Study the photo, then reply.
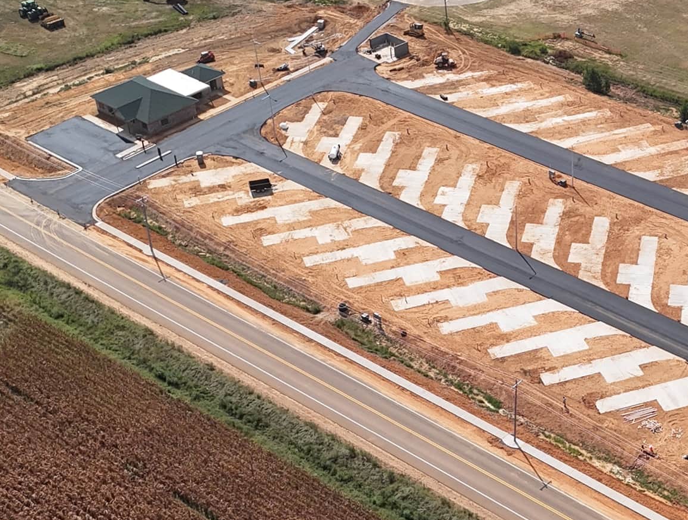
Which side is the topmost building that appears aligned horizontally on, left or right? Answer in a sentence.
It is on the left.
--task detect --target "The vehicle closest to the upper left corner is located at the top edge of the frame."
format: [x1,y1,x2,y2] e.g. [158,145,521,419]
[20,0,48,20]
